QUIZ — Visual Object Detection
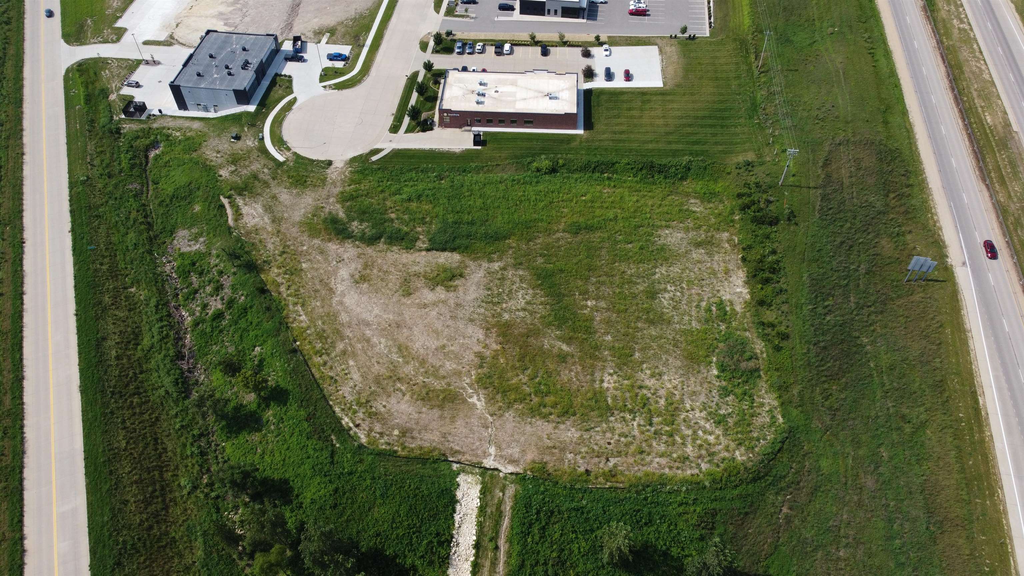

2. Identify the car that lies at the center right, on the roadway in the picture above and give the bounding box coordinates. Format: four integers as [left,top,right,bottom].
[982,240,997,258]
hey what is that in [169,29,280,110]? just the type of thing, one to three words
building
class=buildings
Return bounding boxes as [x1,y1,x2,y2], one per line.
[169,29,280,110]
[438,68,578,131]
[519,0,587,19]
